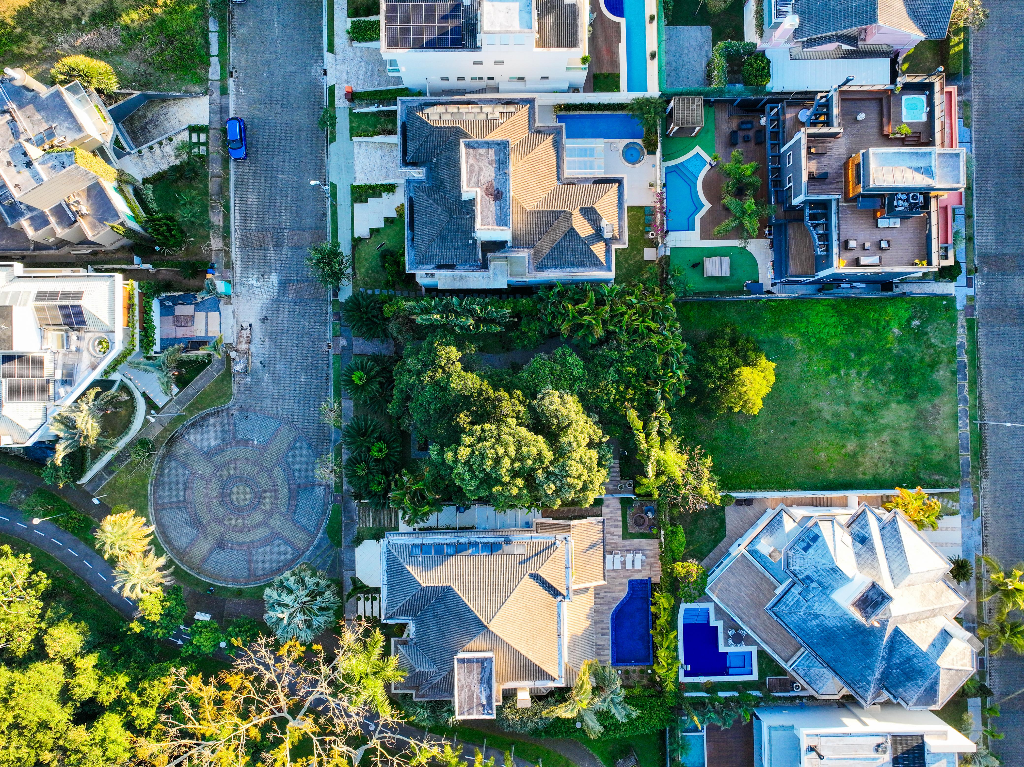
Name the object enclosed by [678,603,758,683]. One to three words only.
swimming pool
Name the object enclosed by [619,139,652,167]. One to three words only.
swimming pool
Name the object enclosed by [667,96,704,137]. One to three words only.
gazebo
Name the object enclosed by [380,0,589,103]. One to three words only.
house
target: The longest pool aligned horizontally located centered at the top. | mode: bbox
[554,111,646,141]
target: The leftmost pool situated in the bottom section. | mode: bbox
[609,577,654,667]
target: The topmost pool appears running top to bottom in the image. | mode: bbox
[599,0,647,89]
